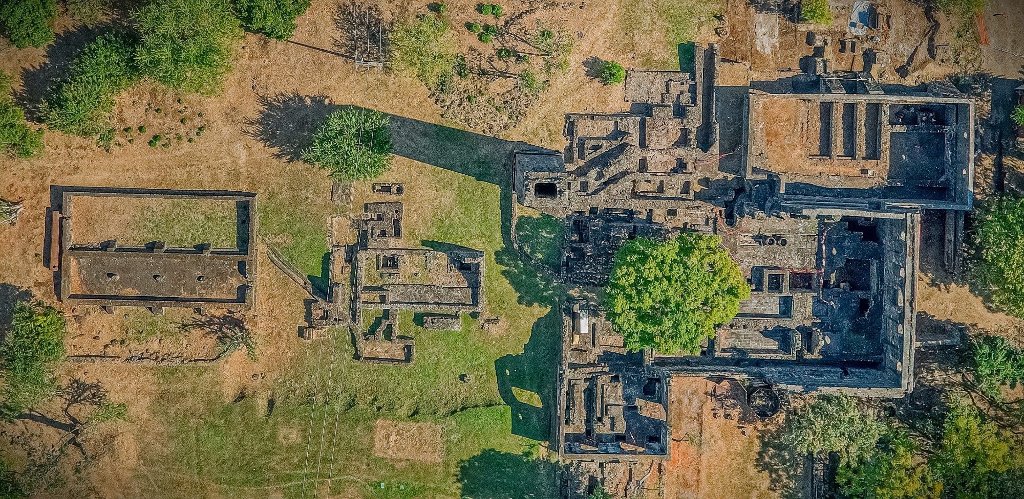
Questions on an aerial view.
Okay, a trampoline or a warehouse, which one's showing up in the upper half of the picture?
warehouse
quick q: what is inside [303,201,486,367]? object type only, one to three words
house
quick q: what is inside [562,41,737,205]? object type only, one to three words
house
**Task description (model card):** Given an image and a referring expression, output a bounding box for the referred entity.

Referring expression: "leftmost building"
[62,190,260,315]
